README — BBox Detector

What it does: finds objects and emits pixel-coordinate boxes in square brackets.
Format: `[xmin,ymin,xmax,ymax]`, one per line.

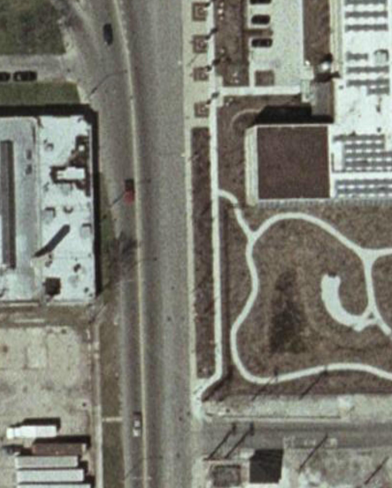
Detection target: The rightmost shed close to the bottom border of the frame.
[246,458,279,485]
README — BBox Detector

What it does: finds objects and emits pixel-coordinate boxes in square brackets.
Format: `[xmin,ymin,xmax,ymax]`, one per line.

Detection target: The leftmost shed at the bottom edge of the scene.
[213,466,241,487]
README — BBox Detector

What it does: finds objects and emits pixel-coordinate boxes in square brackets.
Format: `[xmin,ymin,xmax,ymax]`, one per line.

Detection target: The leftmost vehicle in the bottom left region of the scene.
[1,444,30,457]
